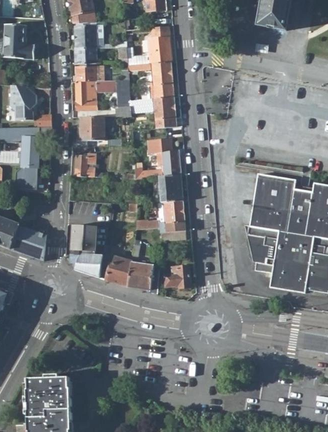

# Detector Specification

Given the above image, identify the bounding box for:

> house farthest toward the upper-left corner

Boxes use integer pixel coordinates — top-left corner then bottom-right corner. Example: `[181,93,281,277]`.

[2,22,36,60]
